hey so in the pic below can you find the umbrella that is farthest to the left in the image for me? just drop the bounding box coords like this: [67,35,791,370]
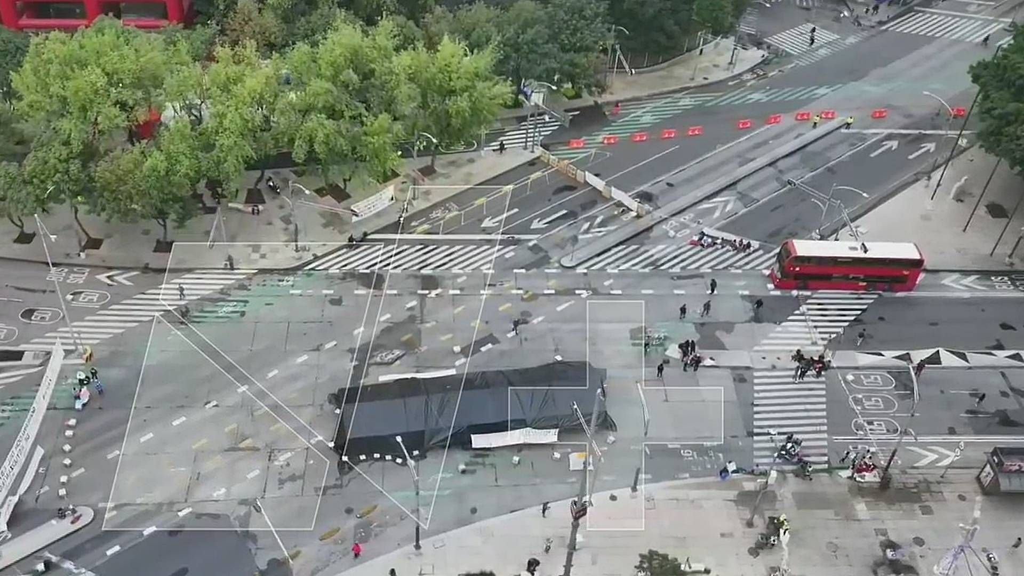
[65,365,86,379]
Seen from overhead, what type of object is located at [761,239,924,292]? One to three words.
bus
